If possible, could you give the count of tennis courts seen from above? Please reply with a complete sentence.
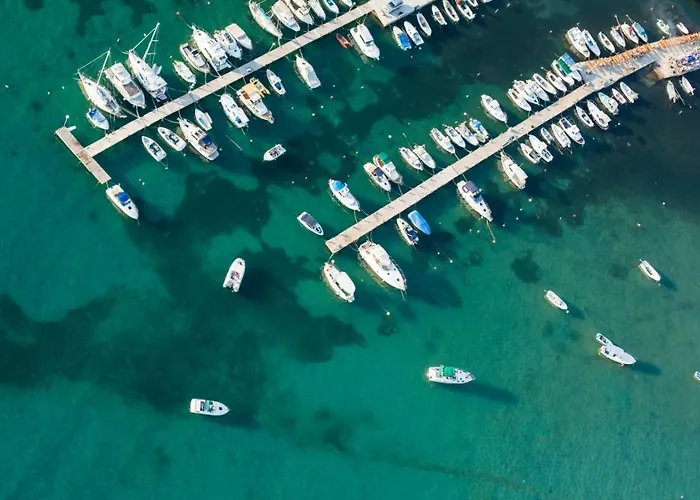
The count of tennis courts is 0.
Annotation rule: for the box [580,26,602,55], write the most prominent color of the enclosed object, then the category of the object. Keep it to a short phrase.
white boat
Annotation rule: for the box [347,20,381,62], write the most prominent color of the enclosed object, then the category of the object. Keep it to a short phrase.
white boat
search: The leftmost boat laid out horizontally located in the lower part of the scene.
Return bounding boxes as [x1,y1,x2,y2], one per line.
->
[187,399,230,416]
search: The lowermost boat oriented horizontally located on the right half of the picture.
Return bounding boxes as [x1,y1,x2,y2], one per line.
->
[421,366,479,385]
